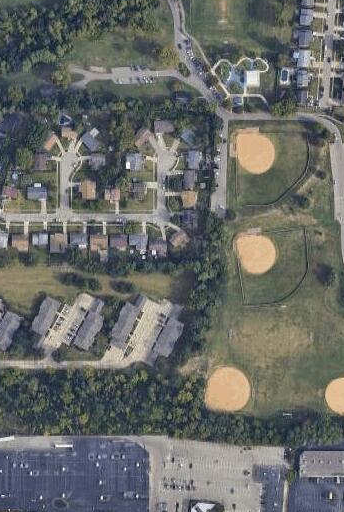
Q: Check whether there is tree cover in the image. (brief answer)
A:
Yes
